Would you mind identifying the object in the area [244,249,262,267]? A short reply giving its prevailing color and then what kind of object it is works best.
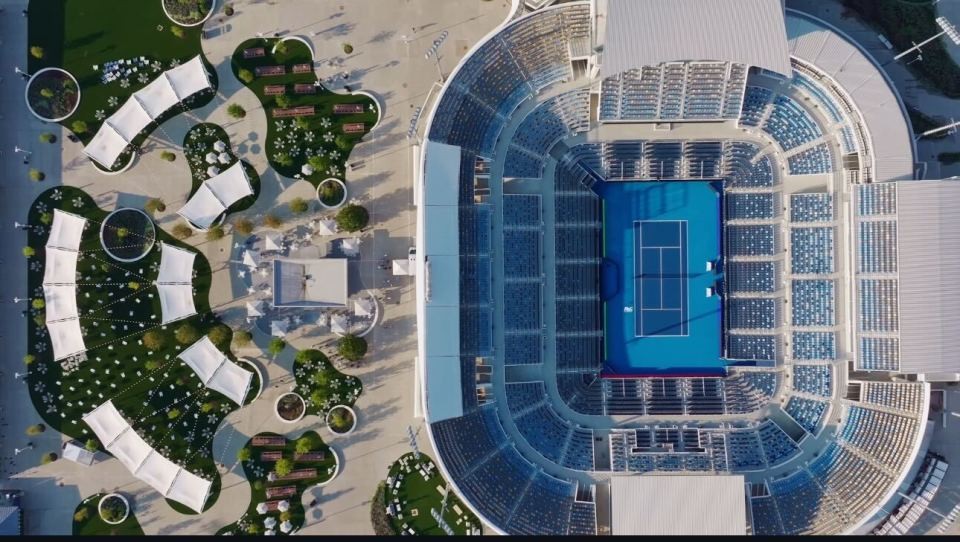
white umbrella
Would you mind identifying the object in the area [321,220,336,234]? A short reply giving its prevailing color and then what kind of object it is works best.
white umbrella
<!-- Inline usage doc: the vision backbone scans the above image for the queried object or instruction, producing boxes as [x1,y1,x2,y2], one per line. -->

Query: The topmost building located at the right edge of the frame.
[927,388,945,412]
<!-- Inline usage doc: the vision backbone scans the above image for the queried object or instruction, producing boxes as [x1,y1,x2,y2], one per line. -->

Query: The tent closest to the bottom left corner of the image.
[63,440,102,466]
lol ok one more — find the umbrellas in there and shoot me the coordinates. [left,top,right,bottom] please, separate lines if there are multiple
[357,300,371,314]
[266,234,281,249]
[332,316,347,331]
[278,499,290,511]
[244,249,262,267]
[268,471,278,481]
[205,152,218,165]
[248,300,263,316]
[264,516,277,529]
[256,502,269,514]
[280,520,292,533]
[301,164,313,176]
[264,527,277,537]
[213,140,227,152]
[321,220,336,234]
[273,322,288,336]
[207,166,220,178]
[218,152,232,165]
[342,237,358,253]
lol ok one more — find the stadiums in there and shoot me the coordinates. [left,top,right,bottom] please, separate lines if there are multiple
[412,0,960,542]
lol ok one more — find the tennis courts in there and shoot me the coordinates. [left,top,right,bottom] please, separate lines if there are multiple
[598,178,730,381]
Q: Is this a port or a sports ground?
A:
sports ground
